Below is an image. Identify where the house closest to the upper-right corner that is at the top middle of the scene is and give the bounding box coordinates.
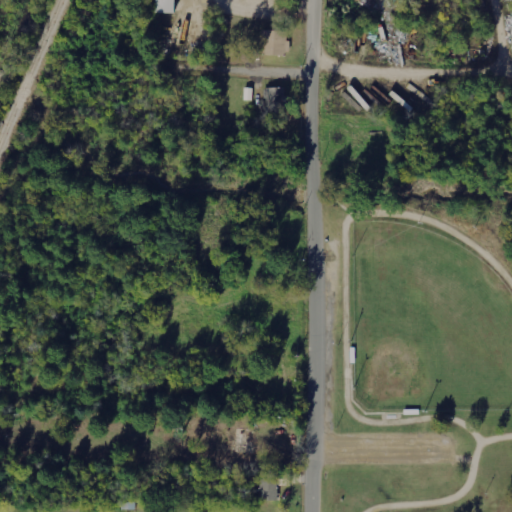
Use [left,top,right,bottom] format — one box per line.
[266,31,290,55]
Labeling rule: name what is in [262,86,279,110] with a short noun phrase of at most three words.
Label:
house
